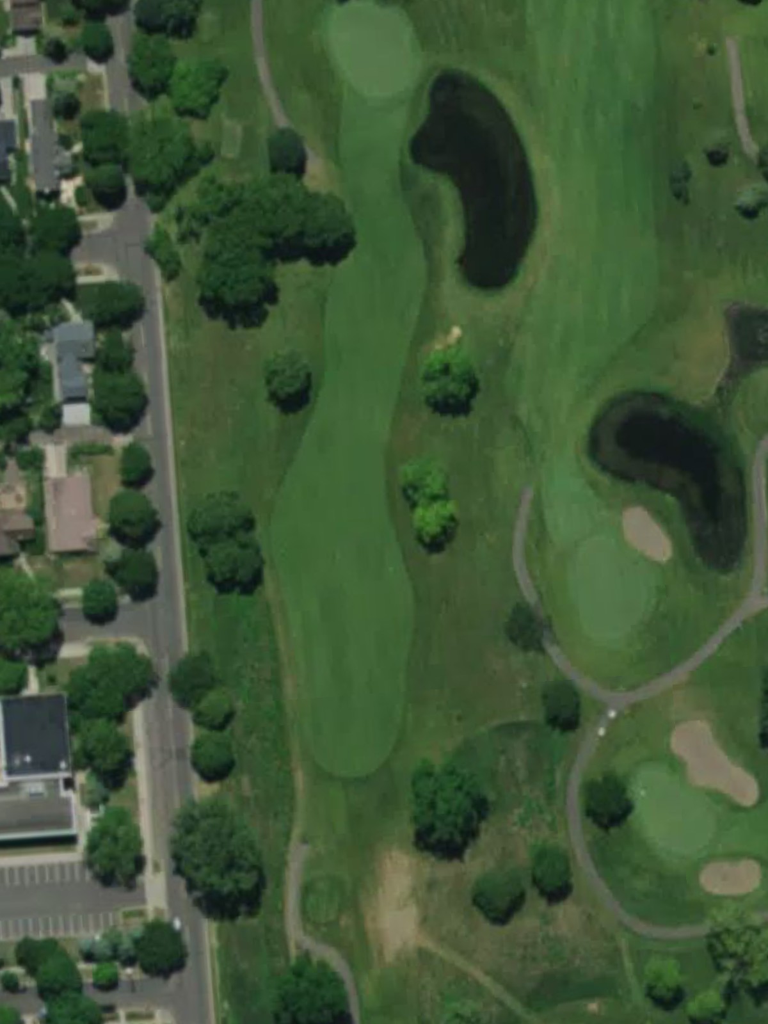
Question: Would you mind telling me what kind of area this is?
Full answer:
It's a golf course.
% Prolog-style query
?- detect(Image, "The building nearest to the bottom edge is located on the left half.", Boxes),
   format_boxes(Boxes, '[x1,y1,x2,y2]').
[0,696,76,838]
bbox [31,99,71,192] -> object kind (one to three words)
house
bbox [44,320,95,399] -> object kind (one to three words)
house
